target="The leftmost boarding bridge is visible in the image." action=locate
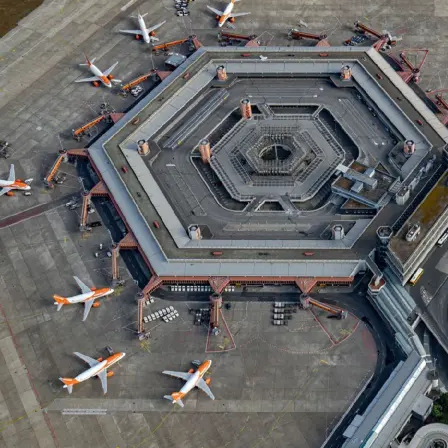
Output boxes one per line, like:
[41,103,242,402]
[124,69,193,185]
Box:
[44,147,91,184]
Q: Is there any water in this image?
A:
No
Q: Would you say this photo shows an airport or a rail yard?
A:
airport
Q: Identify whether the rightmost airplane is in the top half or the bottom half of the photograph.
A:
top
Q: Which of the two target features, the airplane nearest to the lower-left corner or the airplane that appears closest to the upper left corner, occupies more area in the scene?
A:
the airplane nearest to the lower-left corner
